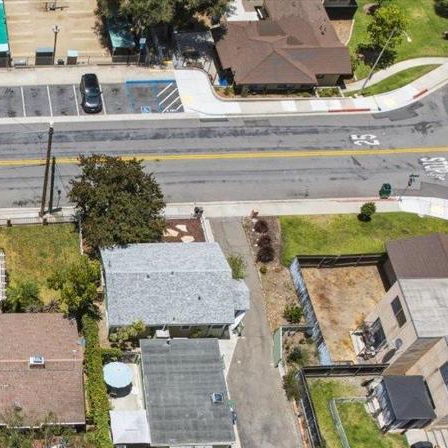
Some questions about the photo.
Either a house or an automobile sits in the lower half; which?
house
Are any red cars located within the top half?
No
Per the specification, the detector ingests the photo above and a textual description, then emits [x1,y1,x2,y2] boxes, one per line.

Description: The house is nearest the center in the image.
[100,242,249,342]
